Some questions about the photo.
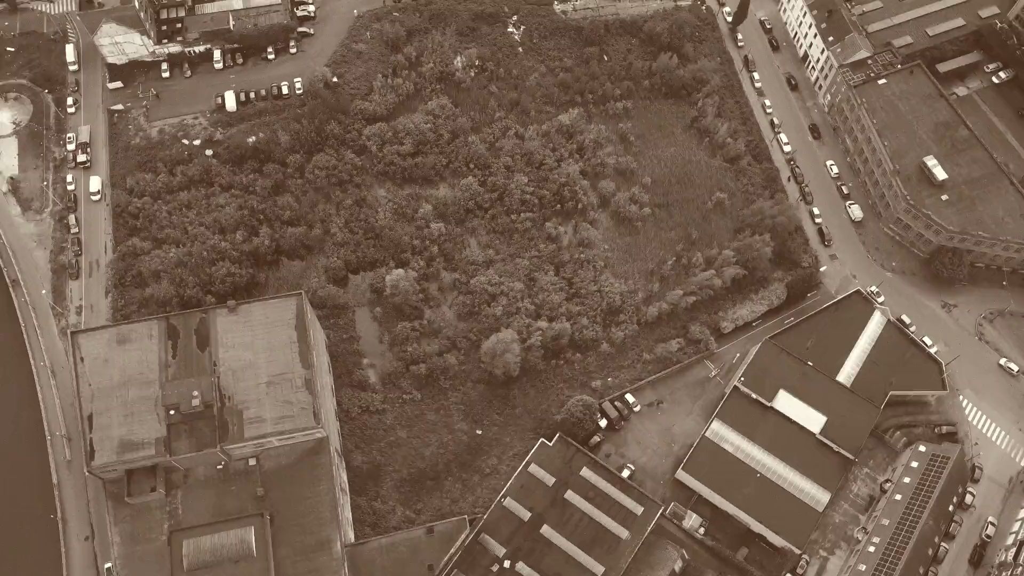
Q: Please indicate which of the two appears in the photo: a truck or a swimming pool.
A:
truck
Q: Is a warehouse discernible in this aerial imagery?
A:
Yes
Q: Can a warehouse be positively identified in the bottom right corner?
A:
Yes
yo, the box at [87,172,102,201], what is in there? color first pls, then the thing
white vehicle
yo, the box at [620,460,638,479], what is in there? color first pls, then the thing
white car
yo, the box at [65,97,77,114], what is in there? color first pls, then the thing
white vehicle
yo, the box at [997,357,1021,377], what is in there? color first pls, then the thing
white car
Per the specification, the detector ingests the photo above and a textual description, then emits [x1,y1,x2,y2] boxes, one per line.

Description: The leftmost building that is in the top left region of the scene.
[133,0,189,44]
